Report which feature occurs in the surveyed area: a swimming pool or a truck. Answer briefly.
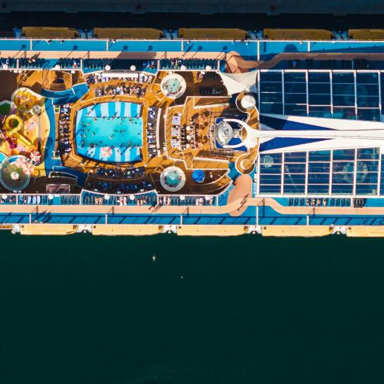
swimming pool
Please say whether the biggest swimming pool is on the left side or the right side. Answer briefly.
left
